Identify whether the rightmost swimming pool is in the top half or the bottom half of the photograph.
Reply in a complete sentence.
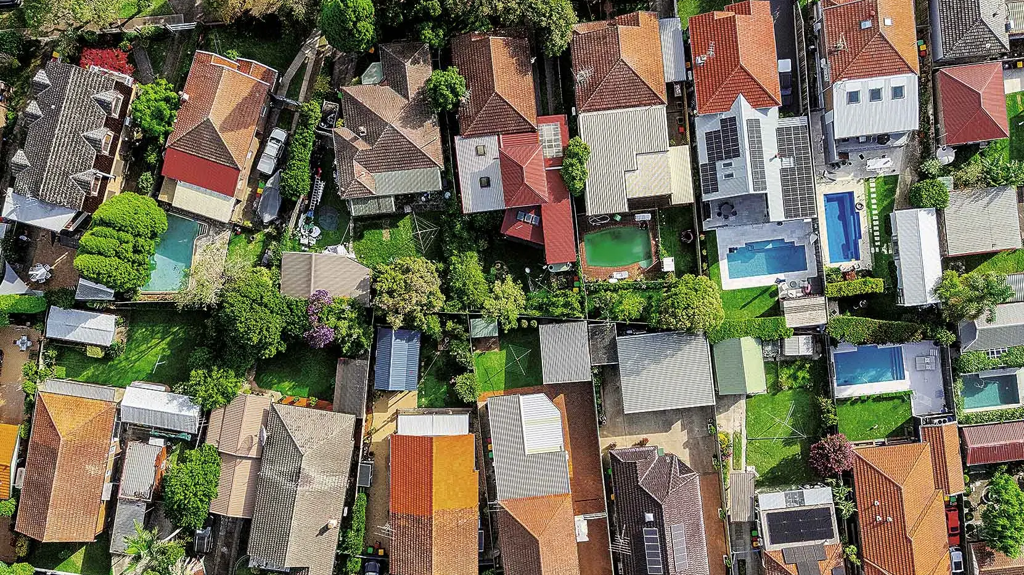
It is in the bottom half that the rightmost swimming pool appears.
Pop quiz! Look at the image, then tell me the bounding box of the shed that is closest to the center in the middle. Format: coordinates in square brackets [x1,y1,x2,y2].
[470,318,499,339]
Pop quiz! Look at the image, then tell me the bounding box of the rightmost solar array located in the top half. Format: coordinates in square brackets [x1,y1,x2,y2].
[781,125,816,218]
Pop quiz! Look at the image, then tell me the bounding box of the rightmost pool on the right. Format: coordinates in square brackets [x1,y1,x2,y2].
[961,371,1023,412]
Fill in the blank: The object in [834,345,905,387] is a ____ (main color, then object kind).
blue swimming pool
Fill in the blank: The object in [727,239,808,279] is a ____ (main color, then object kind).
blue swimming pool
